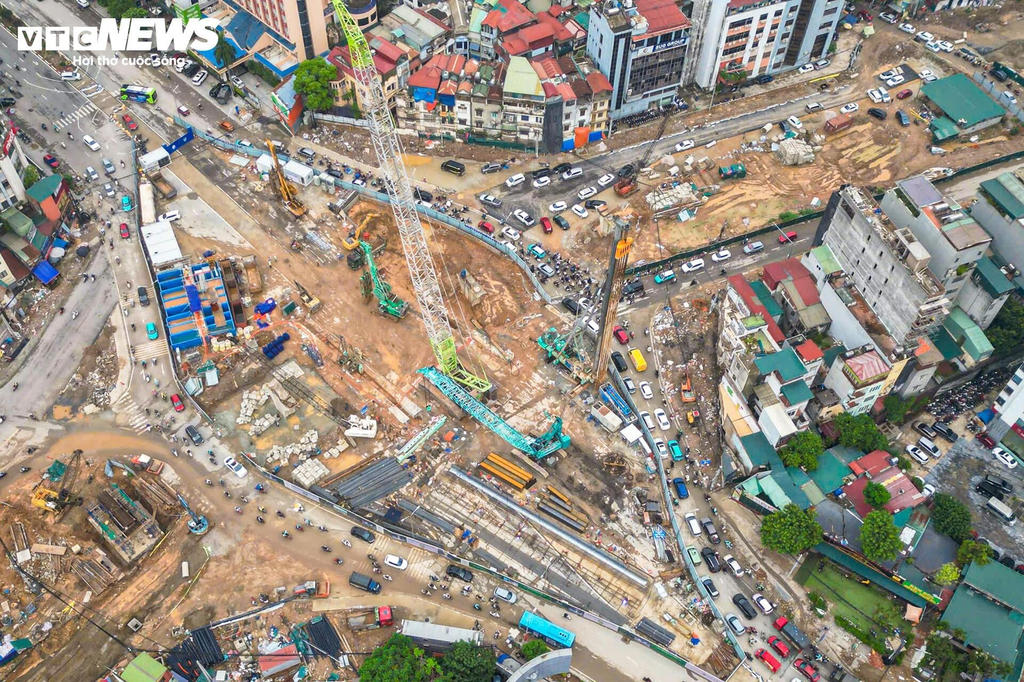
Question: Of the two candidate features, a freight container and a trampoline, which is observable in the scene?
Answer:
freight container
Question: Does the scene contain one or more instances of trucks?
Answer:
Yes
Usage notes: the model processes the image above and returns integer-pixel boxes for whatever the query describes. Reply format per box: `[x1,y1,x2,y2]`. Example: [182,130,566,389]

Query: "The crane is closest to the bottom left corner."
[28,449,93,514]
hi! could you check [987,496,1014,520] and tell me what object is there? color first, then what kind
white vehicle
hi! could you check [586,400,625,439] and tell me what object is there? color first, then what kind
white shipping container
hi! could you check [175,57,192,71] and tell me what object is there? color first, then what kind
white car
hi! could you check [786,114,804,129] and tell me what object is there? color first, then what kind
white car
